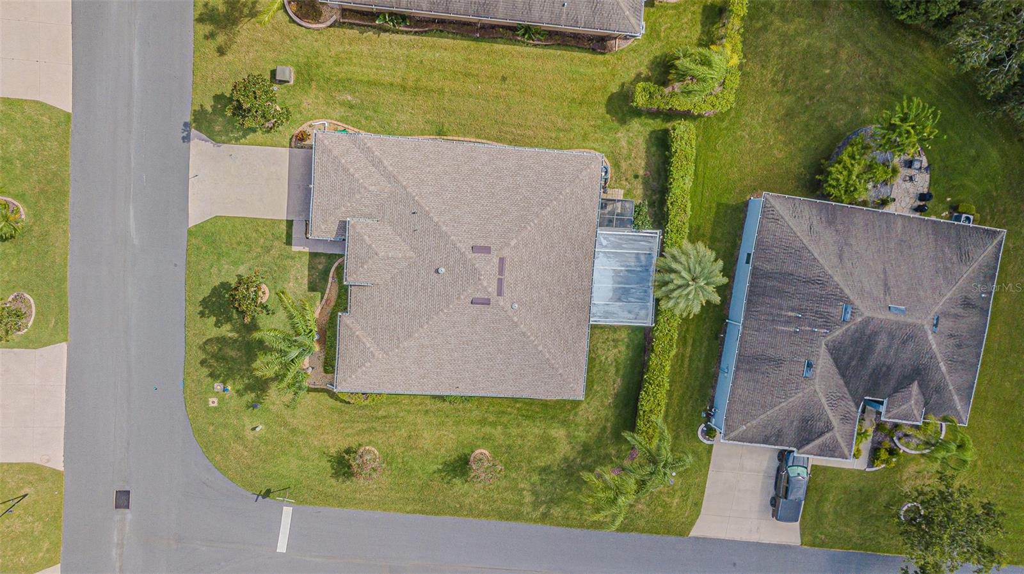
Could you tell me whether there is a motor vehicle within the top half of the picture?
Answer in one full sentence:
No, no motor vehicle is visible within the top half of the picture.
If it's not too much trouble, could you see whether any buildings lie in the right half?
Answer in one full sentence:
Yes, looking in the right half, one can make out a building.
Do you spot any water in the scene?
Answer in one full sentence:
No, no water is visible.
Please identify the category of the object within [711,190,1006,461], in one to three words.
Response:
house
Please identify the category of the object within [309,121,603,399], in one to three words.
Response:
house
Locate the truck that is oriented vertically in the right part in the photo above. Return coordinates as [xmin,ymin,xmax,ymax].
[770,448,810,523]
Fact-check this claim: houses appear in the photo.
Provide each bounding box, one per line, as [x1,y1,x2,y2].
[711,190,1006,461]
[320,0,645,50]
[309,121,603,399]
